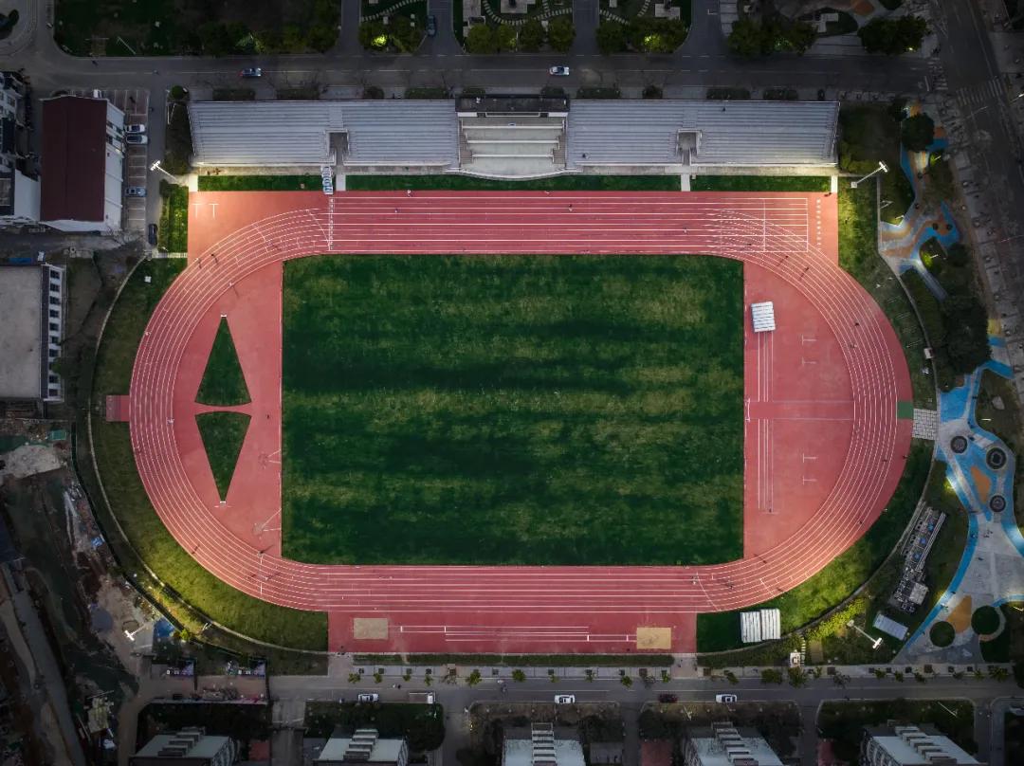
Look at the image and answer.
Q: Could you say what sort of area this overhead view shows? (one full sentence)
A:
What you see here is a sports ground.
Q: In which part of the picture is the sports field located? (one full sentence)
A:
The sports field appears toward the center of the photo.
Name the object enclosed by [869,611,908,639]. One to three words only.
shed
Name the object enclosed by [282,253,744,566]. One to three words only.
sports field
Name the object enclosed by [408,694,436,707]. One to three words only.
vehicle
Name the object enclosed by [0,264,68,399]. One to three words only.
building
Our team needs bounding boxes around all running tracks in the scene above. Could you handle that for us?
[106,191,913,653]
